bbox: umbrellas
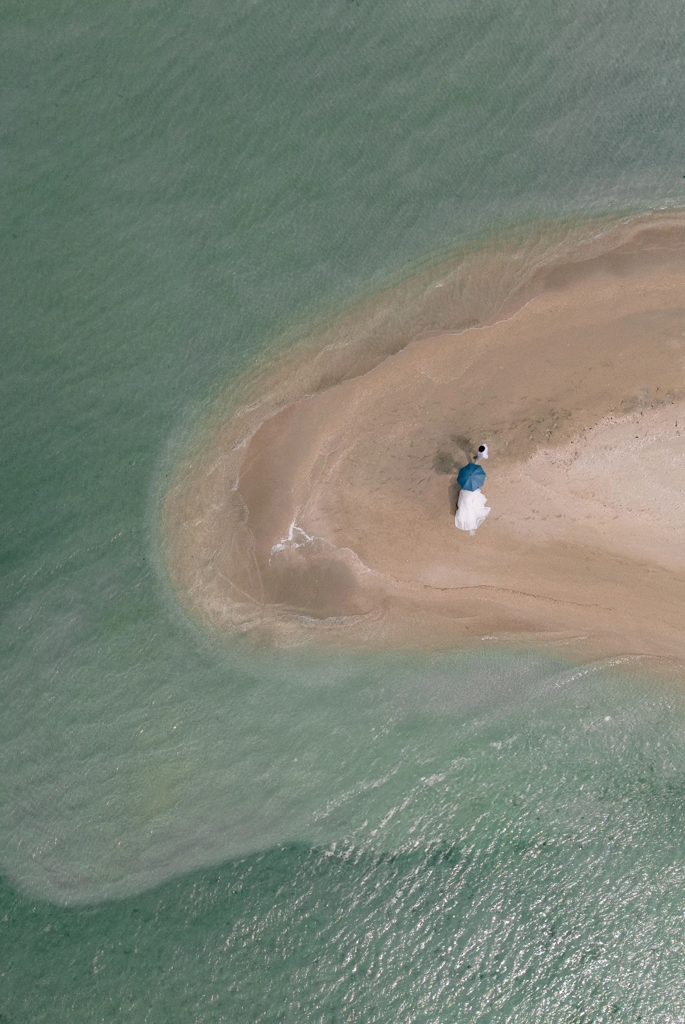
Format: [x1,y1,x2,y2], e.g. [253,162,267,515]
[456,464,487,492]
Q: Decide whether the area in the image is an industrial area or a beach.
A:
beach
